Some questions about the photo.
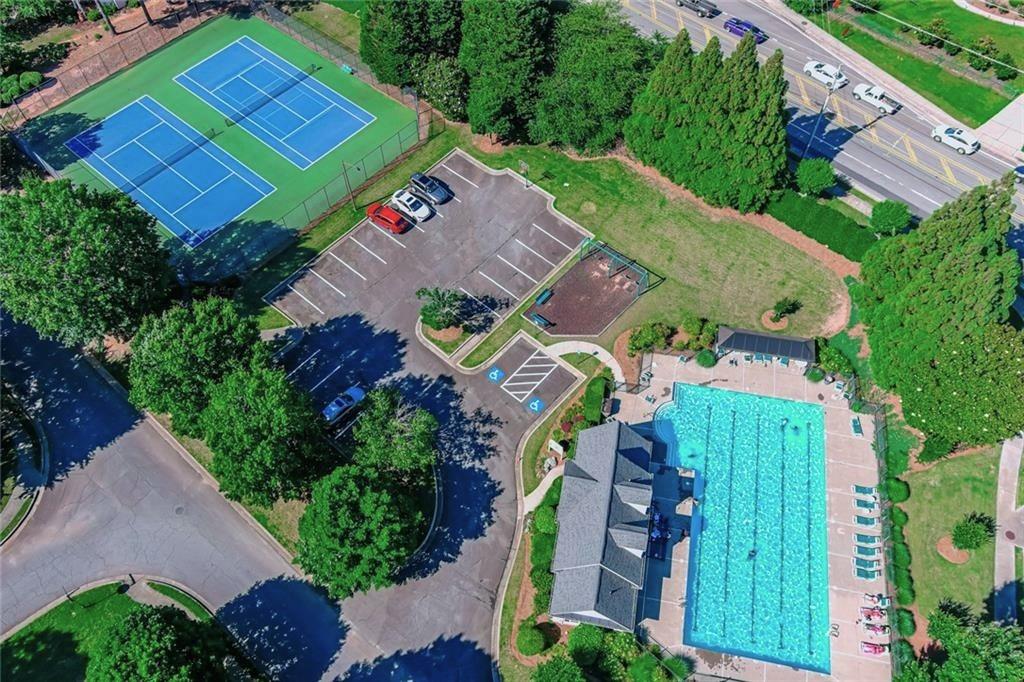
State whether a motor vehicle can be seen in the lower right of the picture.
No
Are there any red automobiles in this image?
Yes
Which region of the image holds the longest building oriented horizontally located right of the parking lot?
right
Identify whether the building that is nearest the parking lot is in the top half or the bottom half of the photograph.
bottom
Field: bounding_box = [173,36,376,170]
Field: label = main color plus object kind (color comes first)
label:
blue tennis court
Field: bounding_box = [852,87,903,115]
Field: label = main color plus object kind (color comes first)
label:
white truck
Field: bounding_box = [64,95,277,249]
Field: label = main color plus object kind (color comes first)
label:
blue tennis court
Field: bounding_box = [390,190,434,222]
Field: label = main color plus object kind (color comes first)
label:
white car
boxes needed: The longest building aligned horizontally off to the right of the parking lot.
[716,325,815,374]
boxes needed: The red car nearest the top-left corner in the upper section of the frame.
[366,206,410,234]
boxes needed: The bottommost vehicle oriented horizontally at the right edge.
[931,129,981,155]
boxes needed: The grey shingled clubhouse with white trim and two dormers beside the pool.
[547,419,656,636]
